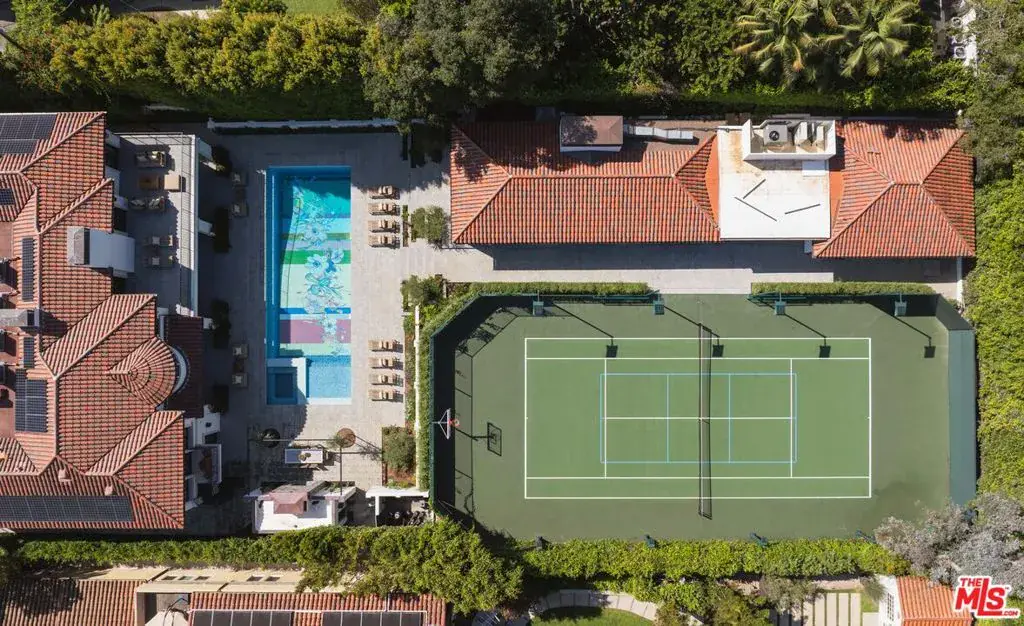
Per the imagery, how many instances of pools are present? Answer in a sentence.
My tally gives 1 pool in this photo.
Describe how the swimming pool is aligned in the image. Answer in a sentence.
The swimming pool is oriented up and down.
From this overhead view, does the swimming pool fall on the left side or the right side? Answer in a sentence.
It is on the left.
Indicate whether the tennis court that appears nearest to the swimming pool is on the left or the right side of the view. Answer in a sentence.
You can find the tennis court that appears nearest to the swimming pool on the right side of the picture.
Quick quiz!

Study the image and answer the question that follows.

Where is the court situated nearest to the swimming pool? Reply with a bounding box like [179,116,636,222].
[436,296,949,542]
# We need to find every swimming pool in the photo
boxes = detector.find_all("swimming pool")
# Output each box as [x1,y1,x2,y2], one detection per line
[264,164,353,406]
